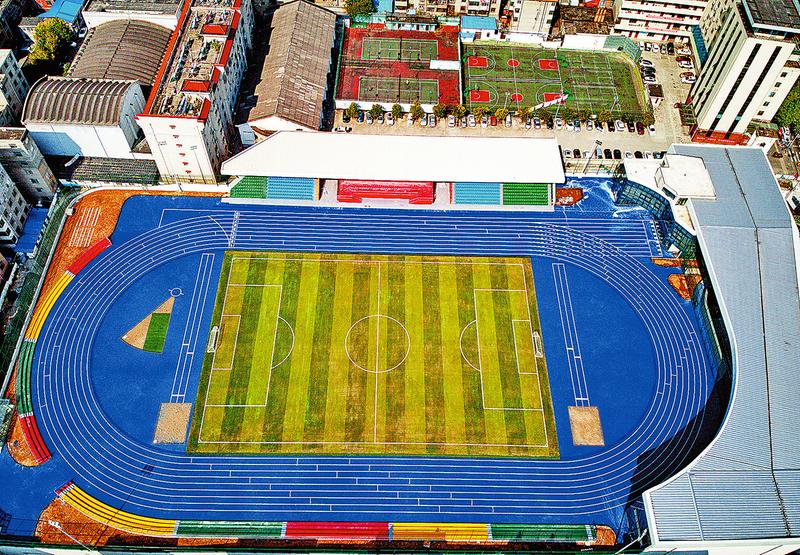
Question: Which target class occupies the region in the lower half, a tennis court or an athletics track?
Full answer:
Looking in the lower half, you will find an athletics track.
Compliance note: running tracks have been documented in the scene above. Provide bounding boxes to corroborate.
[28,210,711,521]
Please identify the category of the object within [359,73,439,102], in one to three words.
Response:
tennis court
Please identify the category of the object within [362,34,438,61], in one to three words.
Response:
tennis court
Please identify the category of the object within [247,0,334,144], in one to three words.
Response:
building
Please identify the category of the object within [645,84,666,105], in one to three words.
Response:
shed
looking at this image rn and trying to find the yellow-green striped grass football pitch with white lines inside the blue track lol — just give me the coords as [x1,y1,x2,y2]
[184,251,561,457]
